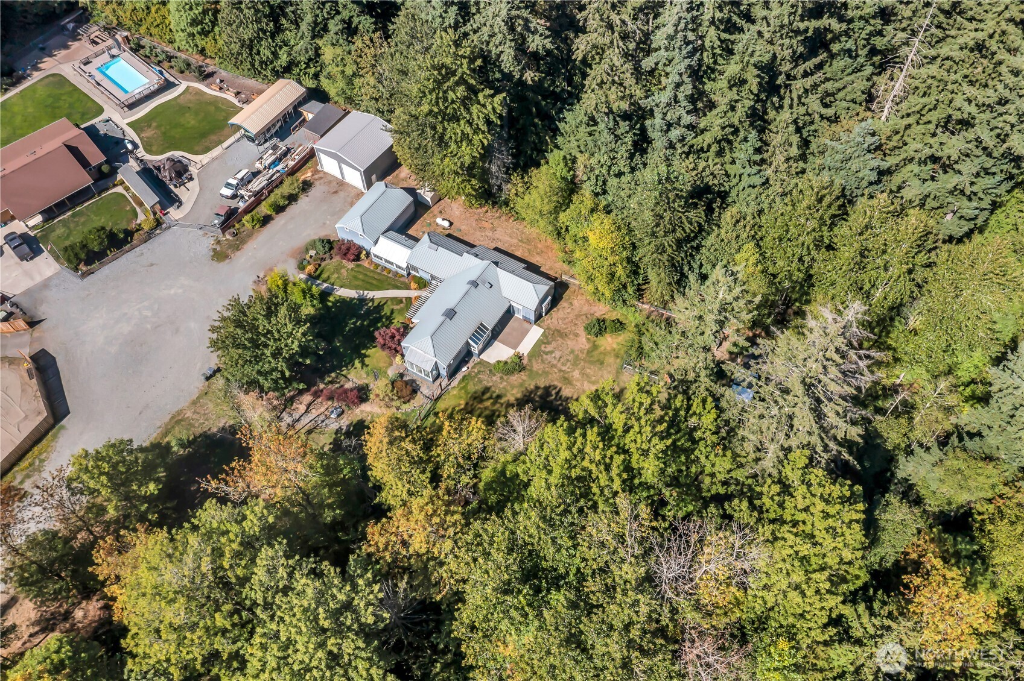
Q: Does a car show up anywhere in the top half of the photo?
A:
Yes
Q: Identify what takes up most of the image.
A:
trees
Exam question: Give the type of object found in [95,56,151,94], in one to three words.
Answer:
swimming pool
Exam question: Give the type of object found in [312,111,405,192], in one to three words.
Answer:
building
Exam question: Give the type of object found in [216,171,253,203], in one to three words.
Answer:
truck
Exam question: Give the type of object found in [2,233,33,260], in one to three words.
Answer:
truck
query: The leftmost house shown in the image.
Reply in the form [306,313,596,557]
[0,117,110,244]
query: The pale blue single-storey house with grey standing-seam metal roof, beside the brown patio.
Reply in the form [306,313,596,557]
[401,231,555,382]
